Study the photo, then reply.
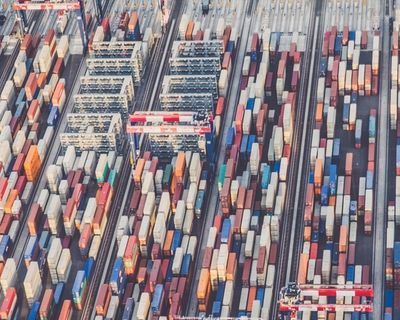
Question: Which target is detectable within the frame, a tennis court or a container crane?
container crane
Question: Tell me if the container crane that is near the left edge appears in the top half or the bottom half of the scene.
top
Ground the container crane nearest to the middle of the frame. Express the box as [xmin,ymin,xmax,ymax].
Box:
[127,109,215,179]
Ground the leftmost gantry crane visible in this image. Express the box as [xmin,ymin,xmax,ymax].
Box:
[14,0,89,52]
